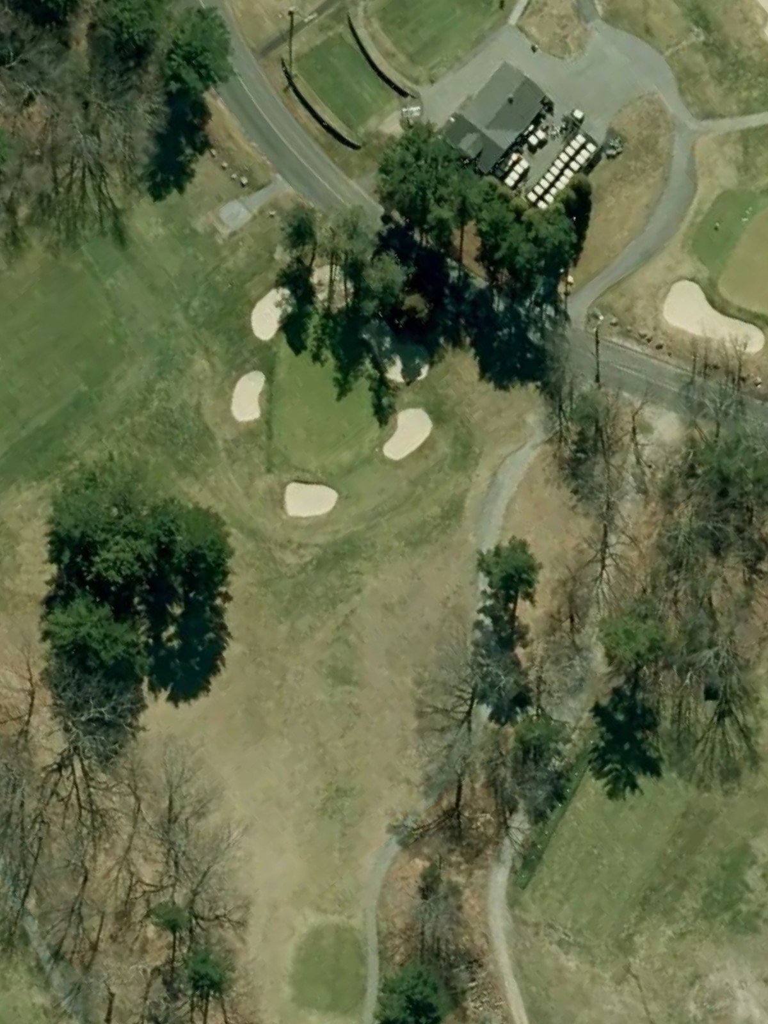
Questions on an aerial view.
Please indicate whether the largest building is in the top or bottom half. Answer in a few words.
top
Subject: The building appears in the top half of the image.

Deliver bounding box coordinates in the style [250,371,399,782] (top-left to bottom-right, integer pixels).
[440,62,547,166]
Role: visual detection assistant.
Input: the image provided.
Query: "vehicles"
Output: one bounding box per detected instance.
[548,165,561,180]
[553,180,565,190]
[537,178,551,193]
[579,148,592,163]
[558,175,570,189]
[542,193,555,207]
[533,130,547,144]
[563,146,577,161]
[574,154,587,169]
[547,186,558,196]
[584,143,597,157]
[558,152,571,167]
[519,159,531,173]
[572,109,585,123]
[569,140,582,154]
[531,185,545,200]
[575,134,588,148]
[524,123,537,135]
[508,152,522,165]
[525,191,538,204]
[543,172,557,186]
[568,161,581,175]
[562,168,574,182]
[526,135,540,149]
[552,159,566,173]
